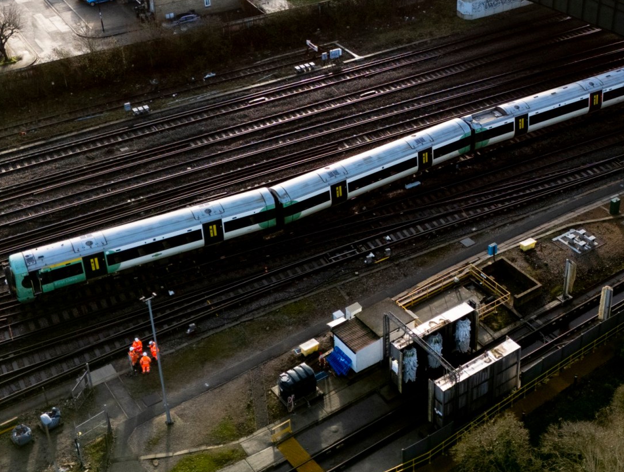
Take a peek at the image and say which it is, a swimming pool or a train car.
train car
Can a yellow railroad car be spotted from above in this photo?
No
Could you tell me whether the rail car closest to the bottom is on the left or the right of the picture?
left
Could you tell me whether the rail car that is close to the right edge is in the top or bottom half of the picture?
top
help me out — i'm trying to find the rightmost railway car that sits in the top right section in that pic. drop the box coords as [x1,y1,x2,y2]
[459,64,624,152]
